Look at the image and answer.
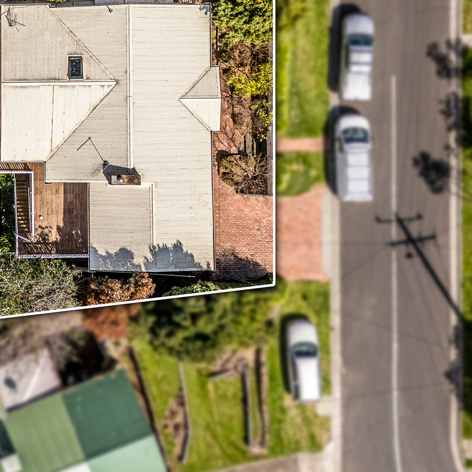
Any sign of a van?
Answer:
Yes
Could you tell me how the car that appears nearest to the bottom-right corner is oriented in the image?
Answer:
up and down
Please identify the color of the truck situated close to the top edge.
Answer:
white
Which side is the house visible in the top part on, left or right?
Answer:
left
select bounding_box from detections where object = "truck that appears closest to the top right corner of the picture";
[342,15,382,99]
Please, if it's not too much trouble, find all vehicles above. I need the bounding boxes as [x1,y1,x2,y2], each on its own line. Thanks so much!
[342,15,382,99]
[288,320,328,405]
[338,117,381,200]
